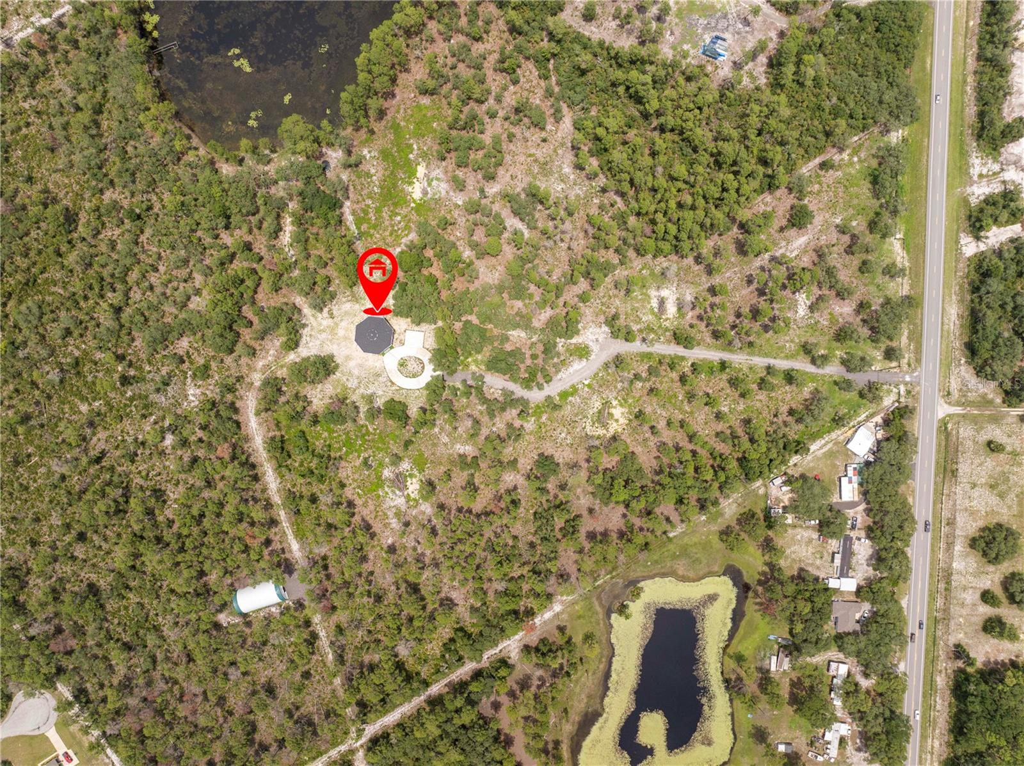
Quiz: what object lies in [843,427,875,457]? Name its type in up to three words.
building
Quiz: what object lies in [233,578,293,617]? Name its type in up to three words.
barn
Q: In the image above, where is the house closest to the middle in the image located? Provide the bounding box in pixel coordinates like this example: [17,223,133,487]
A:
[355,316,394,354]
